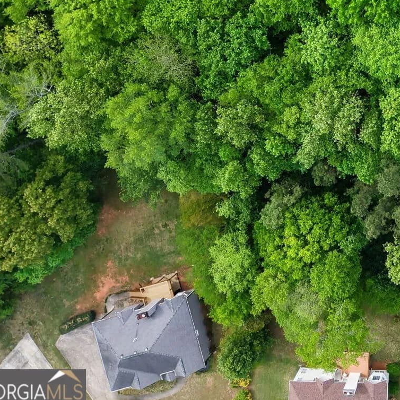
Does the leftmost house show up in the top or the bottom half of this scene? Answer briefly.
bottom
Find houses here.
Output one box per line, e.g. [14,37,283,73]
[289,359,393,400]
[91,291,210,392]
